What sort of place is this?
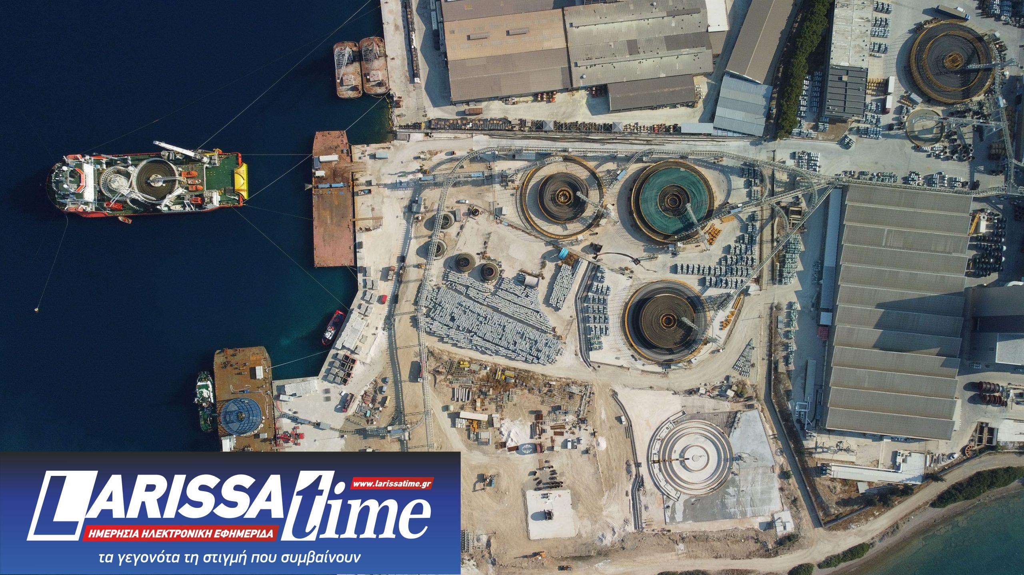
port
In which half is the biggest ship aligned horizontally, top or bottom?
top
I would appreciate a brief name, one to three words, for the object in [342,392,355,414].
vehicle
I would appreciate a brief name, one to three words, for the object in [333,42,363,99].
ship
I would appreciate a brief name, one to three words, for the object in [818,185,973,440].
building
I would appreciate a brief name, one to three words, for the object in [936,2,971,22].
vehicle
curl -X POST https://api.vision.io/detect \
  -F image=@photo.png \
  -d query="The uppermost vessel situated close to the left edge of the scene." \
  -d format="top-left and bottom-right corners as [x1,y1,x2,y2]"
[45,139,252,216]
